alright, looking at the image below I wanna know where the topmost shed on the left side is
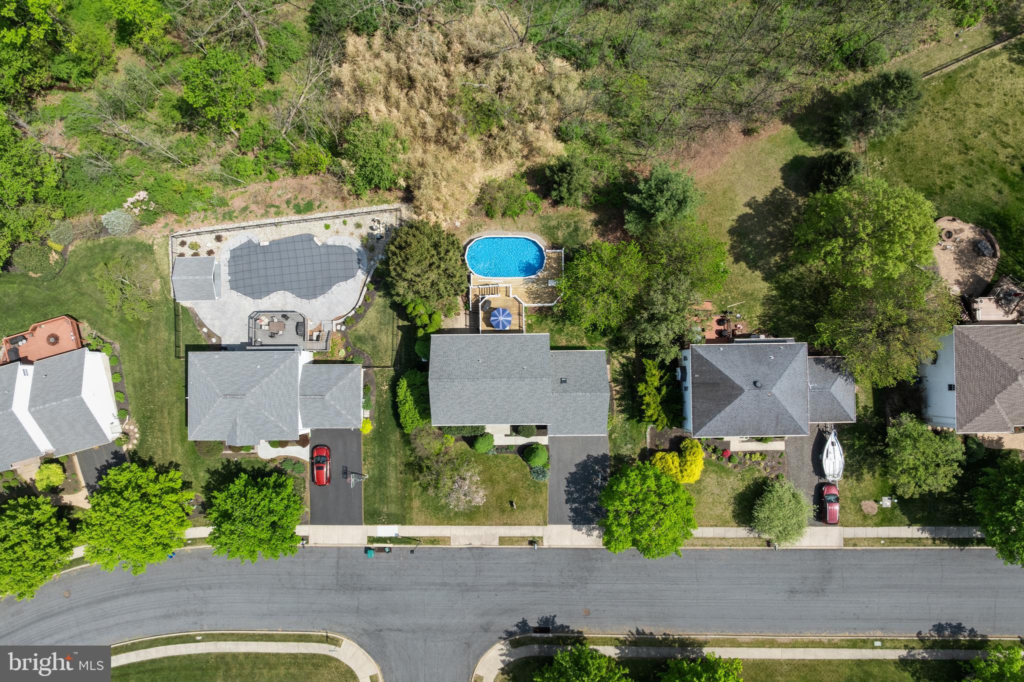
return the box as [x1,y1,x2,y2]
[171,255,221,302]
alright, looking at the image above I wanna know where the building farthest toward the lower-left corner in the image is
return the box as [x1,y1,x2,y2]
[0,346,133,468]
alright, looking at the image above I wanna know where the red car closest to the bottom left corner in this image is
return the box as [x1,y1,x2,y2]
[310,444,331,486]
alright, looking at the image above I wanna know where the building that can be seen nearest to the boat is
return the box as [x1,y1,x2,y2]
[676,337,856,438]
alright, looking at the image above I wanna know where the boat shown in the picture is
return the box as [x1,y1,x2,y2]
[822,423,845,493]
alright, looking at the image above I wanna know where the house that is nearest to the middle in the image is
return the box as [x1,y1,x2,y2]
[428,333,610,436]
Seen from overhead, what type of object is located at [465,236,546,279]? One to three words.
swimming pool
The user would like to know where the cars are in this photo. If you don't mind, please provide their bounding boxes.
[820,482,843,524]
[310,444,331,486]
